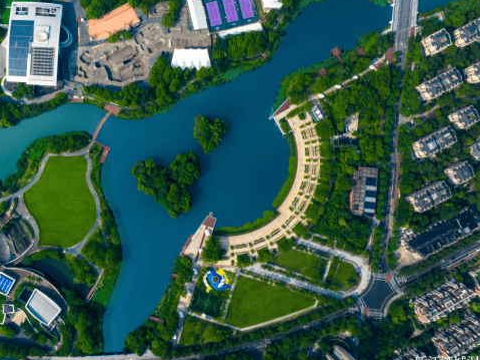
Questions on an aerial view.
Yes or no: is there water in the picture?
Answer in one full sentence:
Yes, water can be seen from above here.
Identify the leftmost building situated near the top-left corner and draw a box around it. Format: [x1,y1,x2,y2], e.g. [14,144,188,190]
[1,2,74,93]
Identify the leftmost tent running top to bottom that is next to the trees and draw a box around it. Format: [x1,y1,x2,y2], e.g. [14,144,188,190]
[187,0,209,32]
